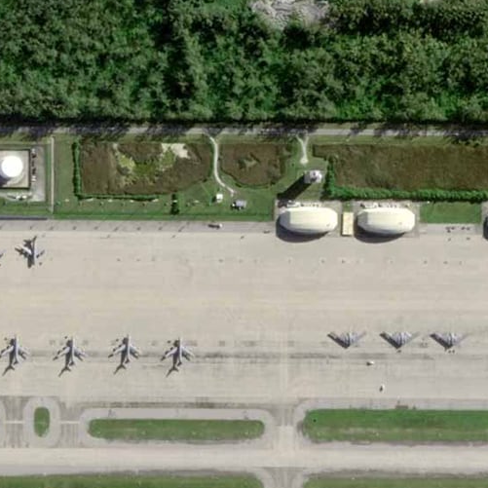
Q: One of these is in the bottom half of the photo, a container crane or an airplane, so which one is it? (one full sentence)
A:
It is an airplane that can be seen in the bottom half of the photo.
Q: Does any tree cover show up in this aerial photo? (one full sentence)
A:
Yes, the picture does contain tree cover.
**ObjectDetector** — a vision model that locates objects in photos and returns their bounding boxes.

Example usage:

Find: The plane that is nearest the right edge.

[433,332,468,347]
